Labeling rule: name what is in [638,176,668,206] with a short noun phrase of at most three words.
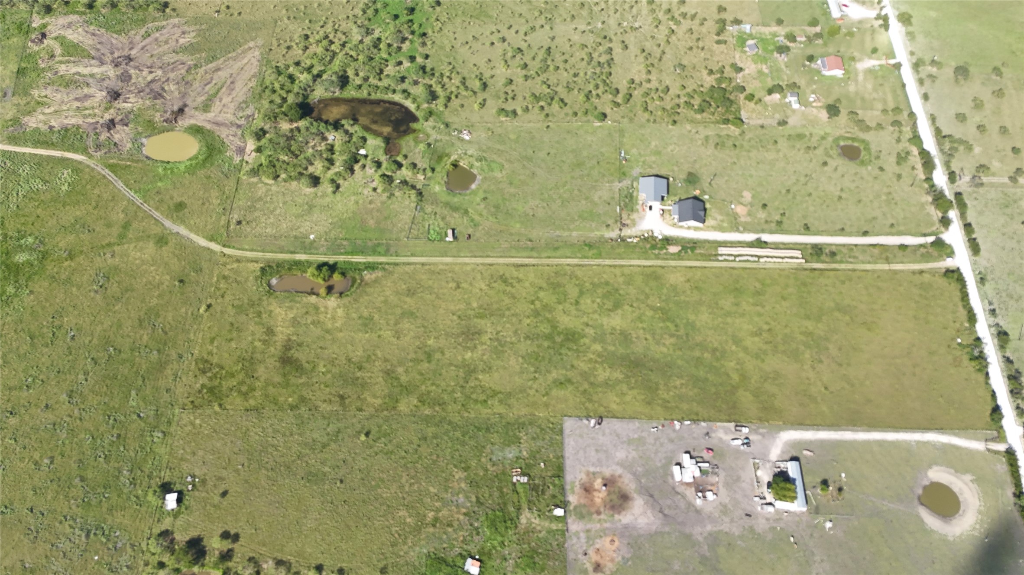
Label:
house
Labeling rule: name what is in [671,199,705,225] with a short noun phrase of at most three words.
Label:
house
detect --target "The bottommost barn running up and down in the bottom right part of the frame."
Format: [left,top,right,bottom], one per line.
[786,462,806,512]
